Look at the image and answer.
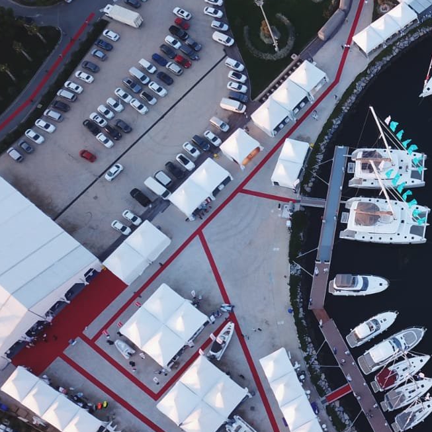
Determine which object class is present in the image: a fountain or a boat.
boat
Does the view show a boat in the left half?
Yes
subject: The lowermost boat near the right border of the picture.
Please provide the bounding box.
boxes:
[382,396,432,431]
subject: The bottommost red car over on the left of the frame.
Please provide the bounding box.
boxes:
[78,149,99,163]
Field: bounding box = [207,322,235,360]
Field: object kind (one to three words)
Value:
boat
